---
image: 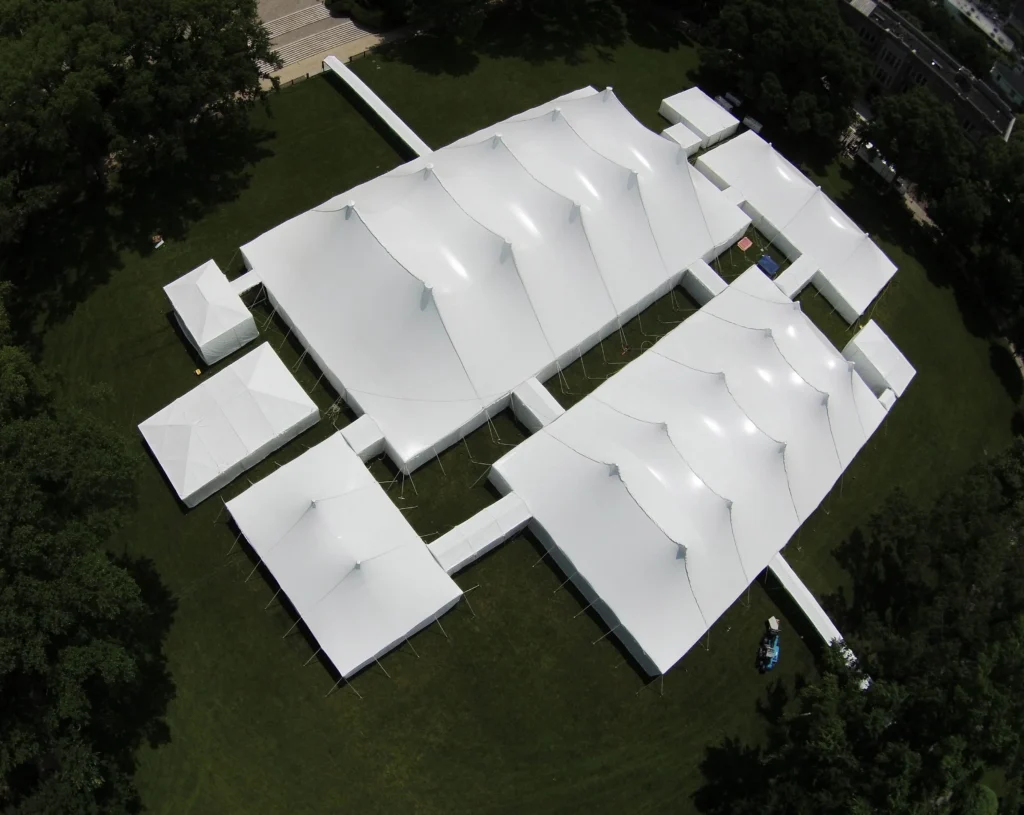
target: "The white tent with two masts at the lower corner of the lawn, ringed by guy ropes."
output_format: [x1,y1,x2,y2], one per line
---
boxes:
[209,433,476,699]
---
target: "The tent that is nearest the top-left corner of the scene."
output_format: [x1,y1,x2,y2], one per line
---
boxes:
[165,260,257,361]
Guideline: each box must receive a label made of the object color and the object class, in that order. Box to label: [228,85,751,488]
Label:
white tent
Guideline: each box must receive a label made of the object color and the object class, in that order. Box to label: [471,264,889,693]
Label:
white tent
